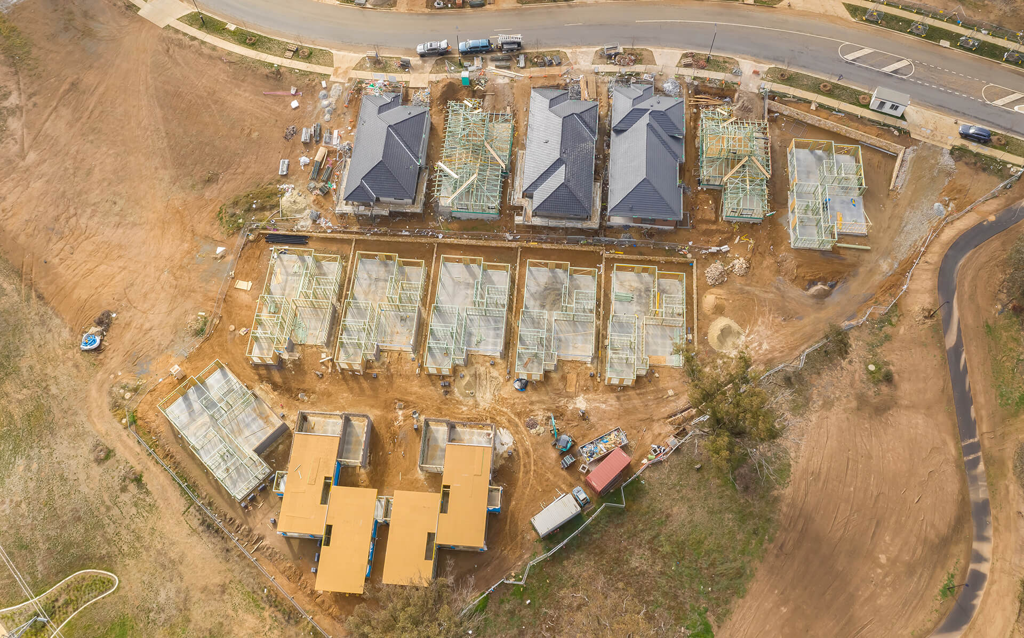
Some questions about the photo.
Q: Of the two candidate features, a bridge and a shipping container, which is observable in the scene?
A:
shipping container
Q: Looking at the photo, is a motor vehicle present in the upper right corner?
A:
Yes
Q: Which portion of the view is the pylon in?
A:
bottom left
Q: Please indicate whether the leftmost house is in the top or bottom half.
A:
bottom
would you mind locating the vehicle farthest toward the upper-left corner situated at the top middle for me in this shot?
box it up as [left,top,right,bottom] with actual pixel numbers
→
[416,38,452,56]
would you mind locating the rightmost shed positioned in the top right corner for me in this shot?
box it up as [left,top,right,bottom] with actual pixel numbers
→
[871,86,910,116]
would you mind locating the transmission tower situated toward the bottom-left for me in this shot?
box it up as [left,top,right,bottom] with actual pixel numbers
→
[7,615,48,638]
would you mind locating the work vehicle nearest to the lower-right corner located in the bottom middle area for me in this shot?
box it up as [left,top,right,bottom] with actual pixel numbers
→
[570,483,595,515]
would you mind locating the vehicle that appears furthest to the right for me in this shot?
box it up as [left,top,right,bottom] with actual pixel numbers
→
[960,122,995,141]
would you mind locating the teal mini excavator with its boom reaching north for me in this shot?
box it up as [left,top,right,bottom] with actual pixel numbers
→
[550,420,577,456]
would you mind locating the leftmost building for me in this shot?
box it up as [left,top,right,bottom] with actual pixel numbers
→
[157,360,286,500]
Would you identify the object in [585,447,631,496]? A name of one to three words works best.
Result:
shipping container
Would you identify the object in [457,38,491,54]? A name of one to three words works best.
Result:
vehicle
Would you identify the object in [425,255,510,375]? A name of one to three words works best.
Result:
house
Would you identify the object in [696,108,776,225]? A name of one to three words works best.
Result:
house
